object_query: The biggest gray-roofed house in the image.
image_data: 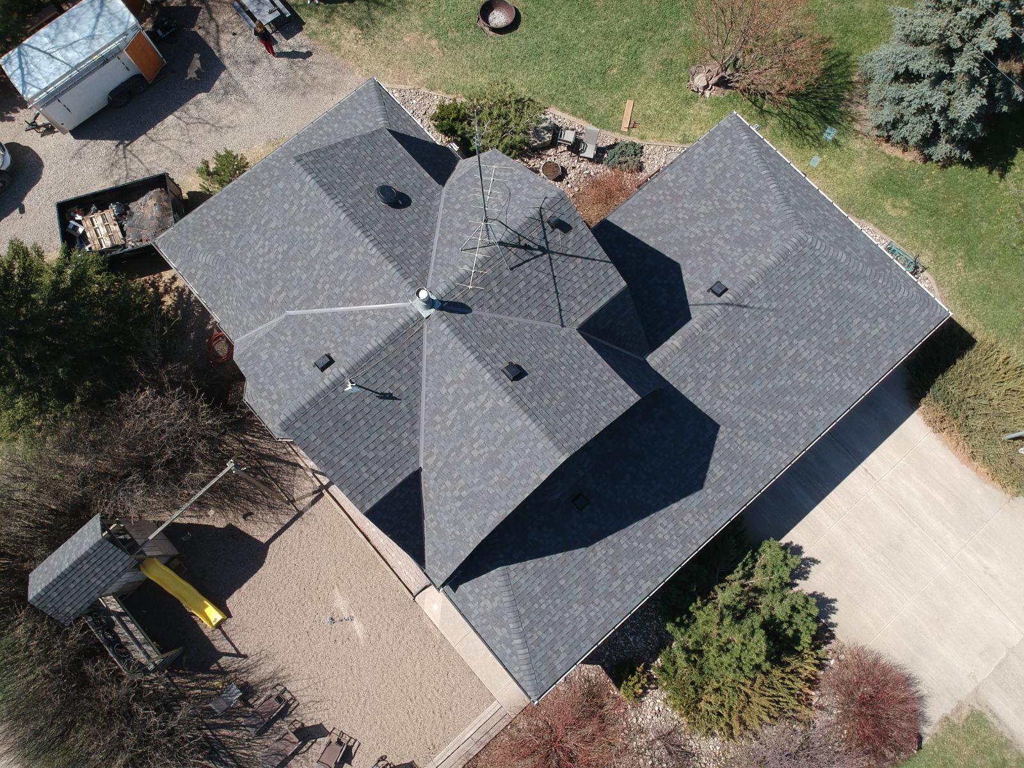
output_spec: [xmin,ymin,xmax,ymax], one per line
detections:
[152,76,952,704]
